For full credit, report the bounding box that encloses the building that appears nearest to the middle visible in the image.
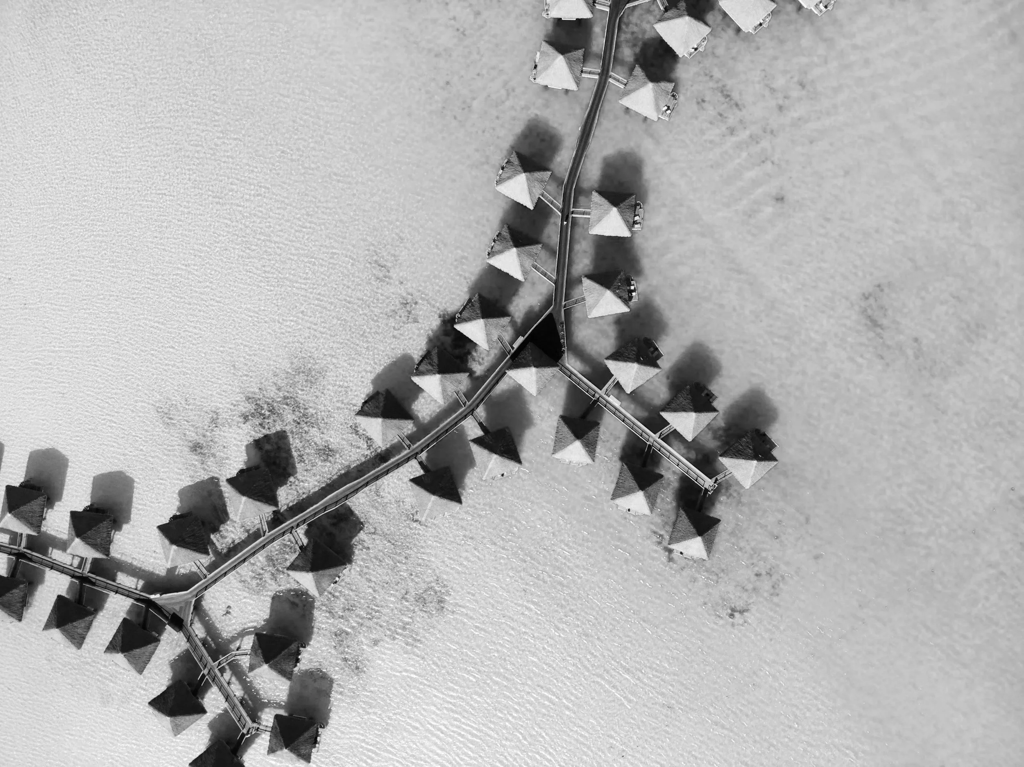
[503,340,562,399]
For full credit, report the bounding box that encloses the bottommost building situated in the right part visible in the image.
[668,507,721,560]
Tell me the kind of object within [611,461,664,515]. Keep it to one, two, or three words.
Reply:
house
